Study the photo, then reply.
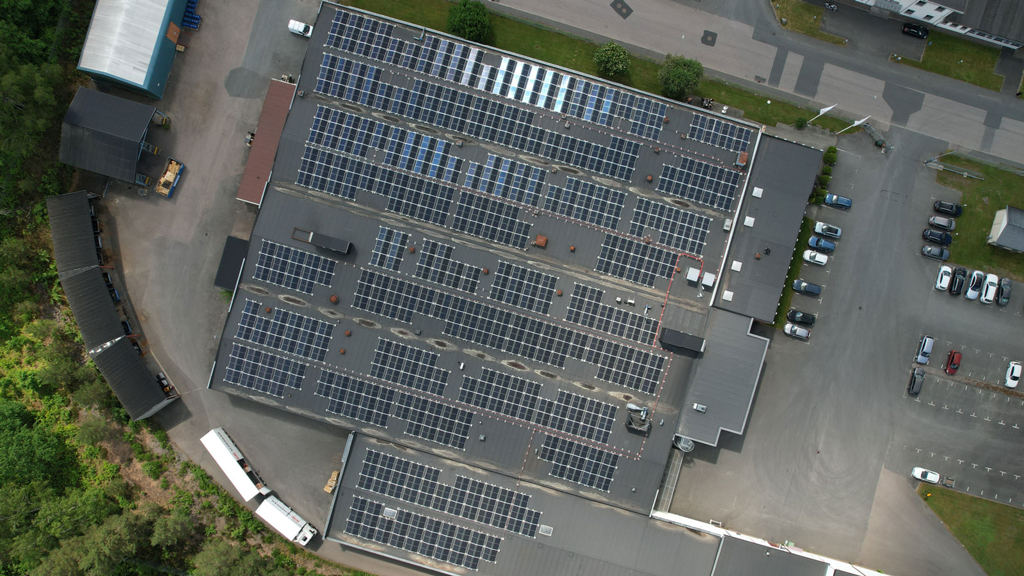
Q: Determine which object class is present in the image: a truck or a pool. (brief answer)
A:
truck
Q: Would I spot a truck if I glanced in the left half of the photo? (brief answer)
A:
Yes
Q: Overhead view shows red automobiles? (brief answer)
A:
Yes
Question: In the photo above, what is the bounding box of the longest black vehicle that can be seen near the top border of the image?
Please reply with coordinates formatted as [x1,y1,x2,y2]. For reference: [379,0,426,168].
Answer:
[901,23,929,40]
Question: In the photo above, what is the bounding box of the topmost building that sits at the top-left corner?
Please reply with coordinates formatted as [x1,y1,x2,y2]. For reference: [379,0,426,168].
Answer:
[76,0,188,99]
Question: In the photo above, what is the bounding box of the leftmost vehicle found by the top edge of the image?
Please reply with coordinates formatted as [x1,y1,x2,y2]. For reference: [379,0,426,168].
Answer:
[285,18,314,37]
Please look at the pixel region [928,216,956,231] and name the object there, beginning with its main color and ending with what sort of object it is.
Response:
gray car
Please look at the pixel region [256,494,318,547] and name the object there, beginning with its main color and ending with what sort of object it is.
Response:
white truck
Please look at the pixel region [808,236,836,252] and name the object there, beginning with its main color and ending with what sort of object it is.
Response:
blue car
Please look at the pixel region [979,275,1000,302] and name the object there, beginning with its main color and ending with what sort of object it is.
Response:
white car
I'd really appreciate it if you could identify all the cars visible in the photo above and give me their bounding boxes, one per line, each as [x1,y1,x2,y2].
[808,236,836,252]
[792,279,822,296]
[787,309,816,326]
[907,367,925,396]
[934,266,953,290]
[928,216,956,231]
[995,278,1013,305]
[1004,362,1023,387]
[802,250,828,265]
[814,221,843,238]
[922,230,951,246]
[933,201,962,216]
[945,350,963,375]
[824,193,852,209]
[911,466,942,484]
[949,268,969,296]
[921,245,950,261]
[916,336,935,363]
[965,271,984,298]
[979,275,1000,302]
[901,23,929,40]
[783,323,810,339]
